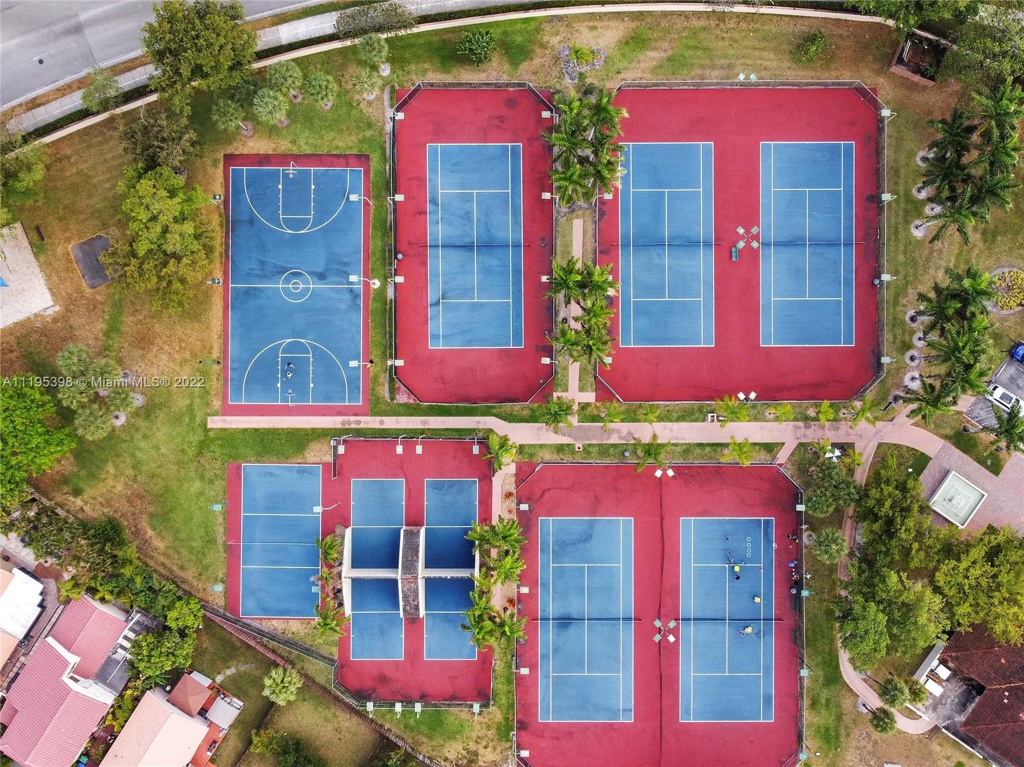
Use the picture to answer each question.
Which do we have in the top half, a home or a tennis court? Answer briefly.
tennis court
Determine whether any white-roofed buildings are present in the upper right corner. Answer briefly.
No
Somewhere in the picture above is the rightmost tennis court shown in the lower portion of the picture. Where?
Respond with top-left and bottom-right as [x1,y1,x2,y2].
[661,461,799,767]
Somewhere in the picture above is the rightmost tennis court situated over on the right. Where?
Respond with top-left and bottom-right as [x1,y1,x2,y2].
[737,88,877,401]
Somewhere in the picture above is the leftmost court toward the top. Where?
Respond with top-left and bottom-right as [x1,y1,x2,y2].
[220,154,370,416]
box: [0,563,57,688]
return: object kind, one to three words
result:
house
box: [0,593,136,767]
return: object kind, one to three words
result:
house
